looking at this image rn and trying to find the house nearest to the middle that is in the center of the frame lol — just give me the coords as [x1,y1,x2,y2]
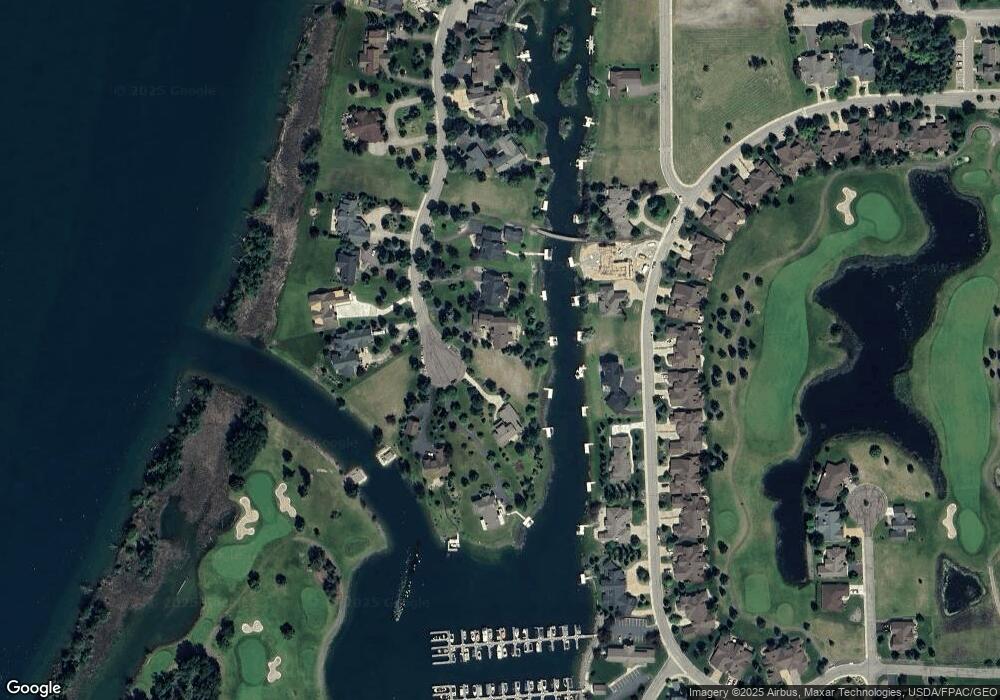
[471,313,521,348]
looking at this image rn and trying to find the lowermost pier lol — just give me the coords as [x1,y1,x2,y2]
[433,678,588,700]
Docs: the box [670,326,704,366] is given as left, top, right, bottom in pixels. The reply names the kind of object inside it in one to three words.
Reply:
house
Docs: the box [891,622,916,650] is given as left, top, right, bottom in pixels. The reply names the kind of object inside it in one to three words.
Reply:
house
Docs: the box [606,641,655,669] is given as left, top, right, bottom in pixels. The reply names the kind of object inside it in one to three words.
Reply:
building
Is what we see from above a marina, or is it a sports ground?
marina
